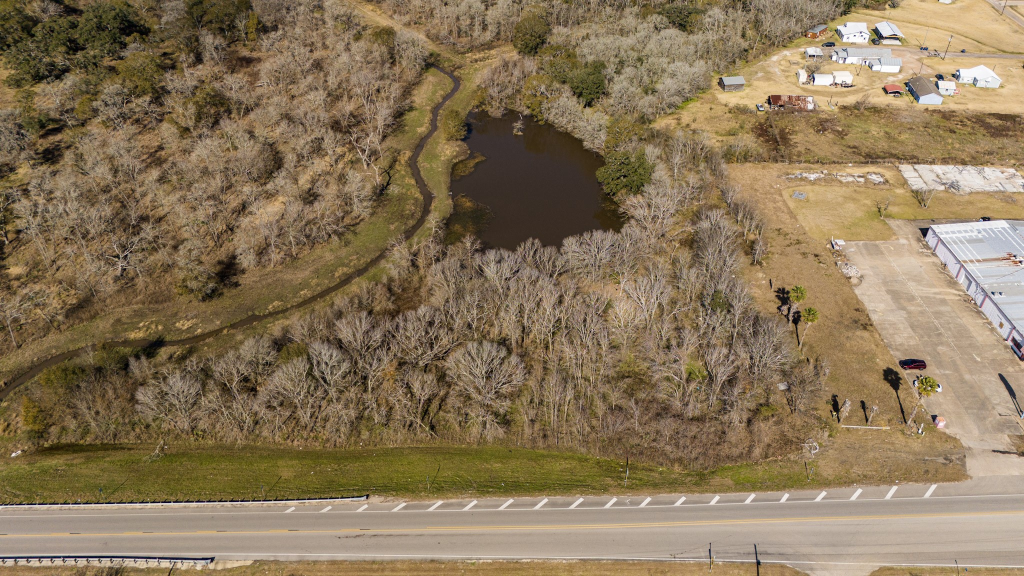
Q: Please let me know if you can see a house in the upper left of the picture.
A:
No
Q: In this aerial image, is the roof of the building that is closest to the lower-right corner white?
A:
Yes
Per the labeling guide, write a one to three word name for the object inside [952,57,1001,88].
house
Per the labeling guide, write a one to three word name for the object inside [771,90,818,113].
barn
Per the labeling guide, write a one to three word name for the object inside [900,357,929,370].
vehicle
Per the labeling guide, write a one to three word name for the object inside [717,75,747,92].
shed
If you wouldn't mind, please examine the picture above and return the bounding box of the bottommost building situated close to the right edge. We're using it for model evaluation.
[925,218,1024,363]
